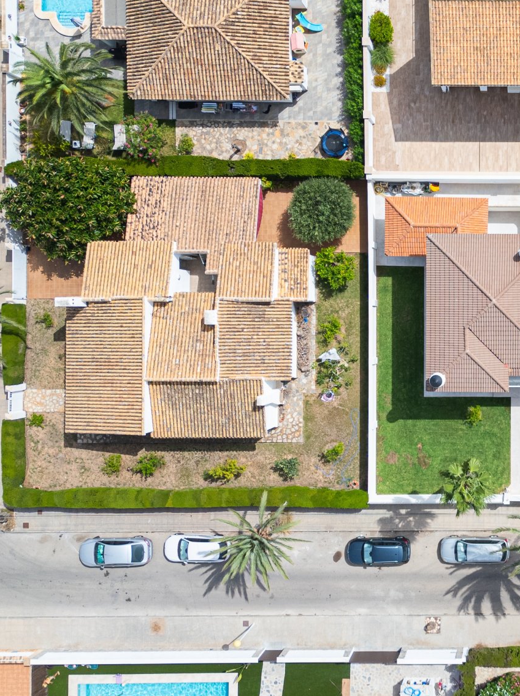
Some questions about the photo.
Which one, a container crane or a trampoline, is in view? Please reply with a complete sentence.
I can see a trampoline in this picture.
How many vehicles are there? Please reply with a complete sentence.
The picture shows 4 vehicles.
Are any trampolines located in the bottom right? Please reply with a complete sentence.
No, no trampoline can be made out in the bottom right.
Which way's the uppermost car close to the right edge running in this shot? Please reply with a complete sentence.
In this picture, the uppermost car close to the right edge lies from side to side.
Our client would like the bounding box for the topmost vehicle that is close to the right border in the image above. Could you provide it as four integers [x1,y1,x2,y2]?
[439,533,510,567]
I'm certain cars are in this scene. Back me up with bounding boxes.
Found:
[439,533,510,567]
[81,534,154,571]
[166,530,234,566]
[346,533,411,569]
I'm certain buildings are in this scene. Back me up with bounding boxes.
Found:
[124,0,316,117]
[423,231,520,397]
[55,176,329,438]
[431,0,520,112]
